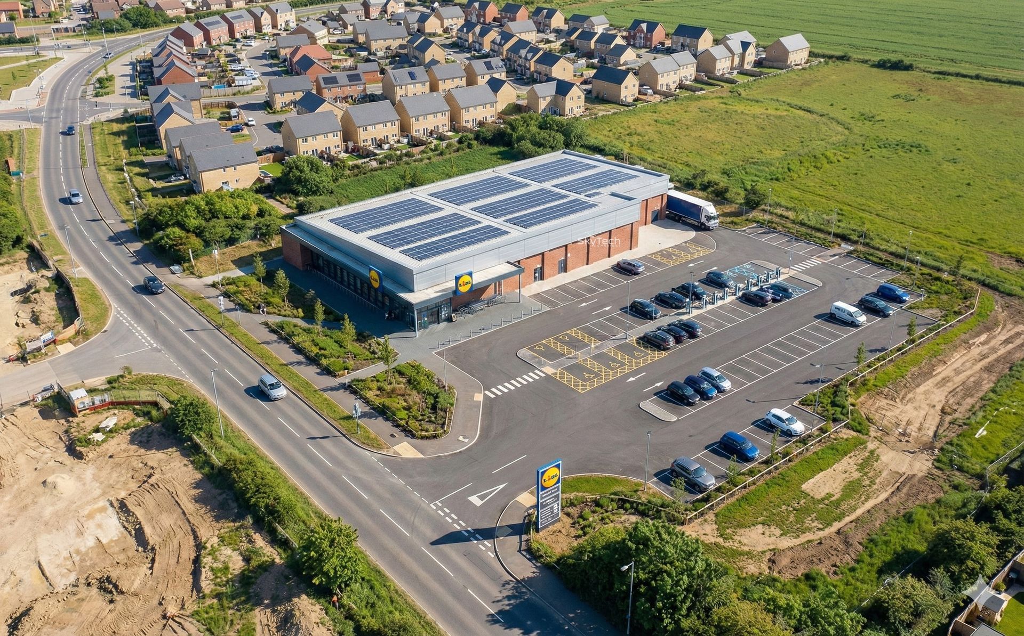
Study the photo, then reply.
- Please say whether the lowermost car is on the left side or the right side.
right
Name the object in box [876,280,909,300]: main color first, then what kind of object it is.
blue car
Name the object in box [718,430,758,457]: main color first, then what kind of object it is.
blue car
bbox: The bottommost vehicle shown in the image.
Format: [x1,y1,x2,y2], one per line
[670,454,715,487]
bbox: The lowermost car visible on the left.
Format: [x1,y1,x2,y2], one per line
[258,371,285,397]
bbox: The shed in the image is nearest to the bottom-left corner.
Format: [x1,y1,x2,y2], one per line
[63,392,93,419]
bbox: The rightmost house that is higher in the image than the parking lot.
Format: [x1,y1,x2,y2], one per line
[759,29,812,69]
